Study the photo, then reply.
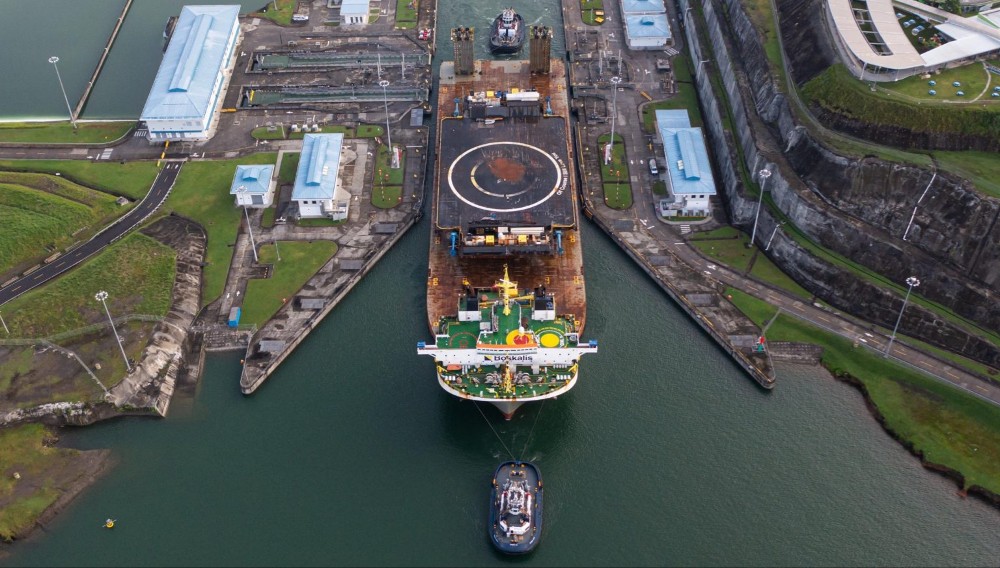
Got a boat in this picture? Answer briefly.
Yes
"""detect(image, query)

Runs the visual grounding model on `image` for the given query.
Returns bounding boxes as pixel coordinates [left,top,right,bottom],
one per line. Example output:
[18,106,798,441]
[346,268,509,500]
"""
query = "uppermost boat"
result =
[489,3,525,56]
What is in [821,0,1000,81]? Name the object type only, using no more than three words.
building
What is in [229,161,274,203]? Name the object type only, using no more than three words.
building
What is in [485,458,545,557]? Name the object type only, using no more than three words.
boat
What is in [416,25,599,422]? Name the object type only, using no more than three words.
ship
